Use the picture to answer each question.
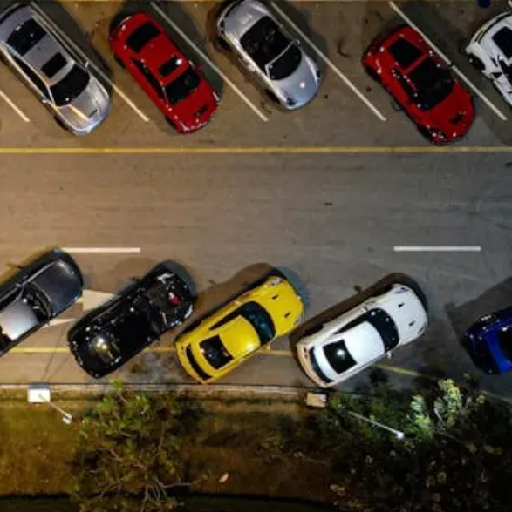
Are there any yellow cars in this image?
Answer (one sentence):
Yes, this view includes a yellow car.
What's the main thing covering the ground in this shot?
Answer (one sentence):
The scene is dominated by paved ground.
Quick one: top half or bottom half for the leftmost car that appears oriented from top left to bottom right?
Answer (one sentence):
Seen from above, the leftmost car that appears oriented from top left to bottom right lies in the top half of the view.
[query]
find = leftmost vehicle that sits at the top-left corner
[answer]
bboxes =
[0,3,107,132]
